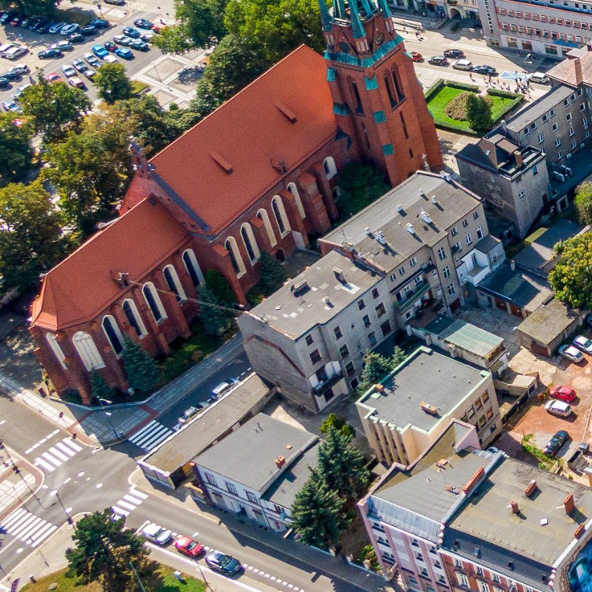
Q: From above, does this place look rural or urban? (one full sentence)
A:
From above, the setting appears urban.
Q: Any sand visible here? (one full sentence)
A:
No, the scene doesn't show any sand.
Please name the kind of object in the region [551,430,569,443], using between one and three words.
vehicle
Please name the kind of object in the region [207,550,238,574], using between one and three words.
car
